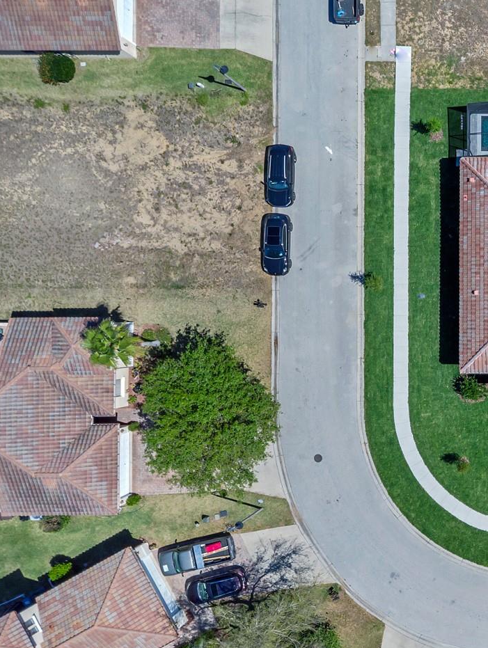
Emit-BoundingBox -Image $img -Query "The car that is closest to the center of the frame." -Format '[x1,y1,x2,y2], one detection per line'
[260,213,294,277]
